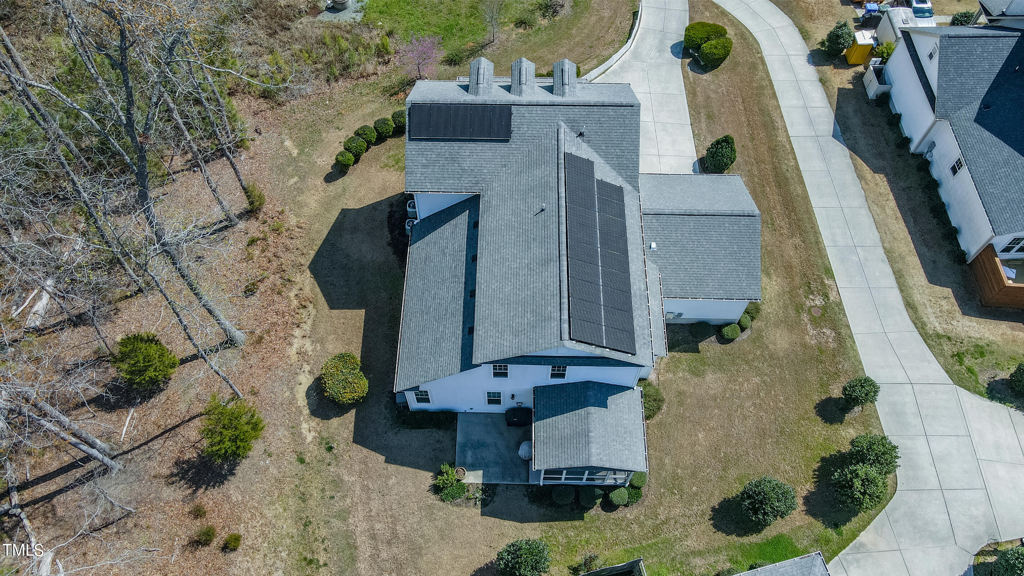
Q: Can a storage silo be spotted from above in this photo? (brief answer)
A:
No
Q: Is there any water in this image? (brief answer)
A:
No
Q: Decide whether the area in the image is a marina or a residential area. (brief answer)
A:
residential area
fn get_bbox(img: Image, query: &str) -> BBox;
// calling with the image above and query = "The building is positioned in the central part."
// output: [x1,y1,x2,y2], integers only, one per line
[392,57,762,487]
